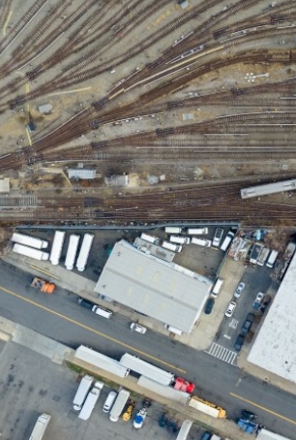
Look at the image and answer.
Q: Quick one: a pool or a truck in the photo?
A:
truck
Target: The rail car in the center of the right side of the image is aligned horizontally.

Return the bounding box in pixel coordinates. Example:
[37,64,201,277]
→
[241,179,296,197]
